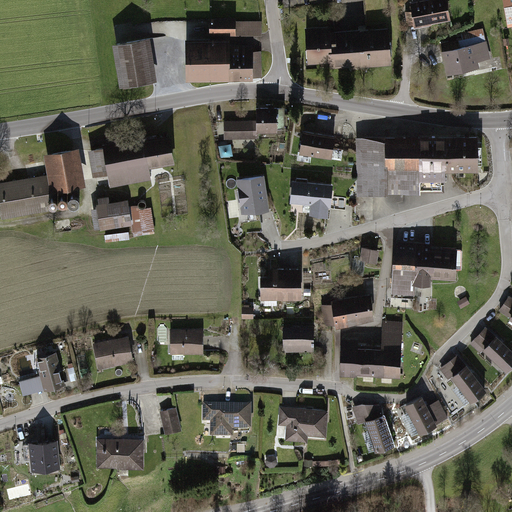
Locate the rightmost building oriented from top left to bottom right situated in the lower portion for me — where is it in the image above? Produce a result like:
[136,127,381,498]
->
[470,327,512,375]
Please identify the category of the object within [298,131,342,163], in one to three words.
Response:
house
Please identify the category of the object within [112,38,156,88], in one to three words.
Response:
barn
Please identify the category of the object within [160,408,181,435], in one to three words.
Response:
building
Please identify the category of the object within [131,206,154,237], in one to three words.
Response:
shed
